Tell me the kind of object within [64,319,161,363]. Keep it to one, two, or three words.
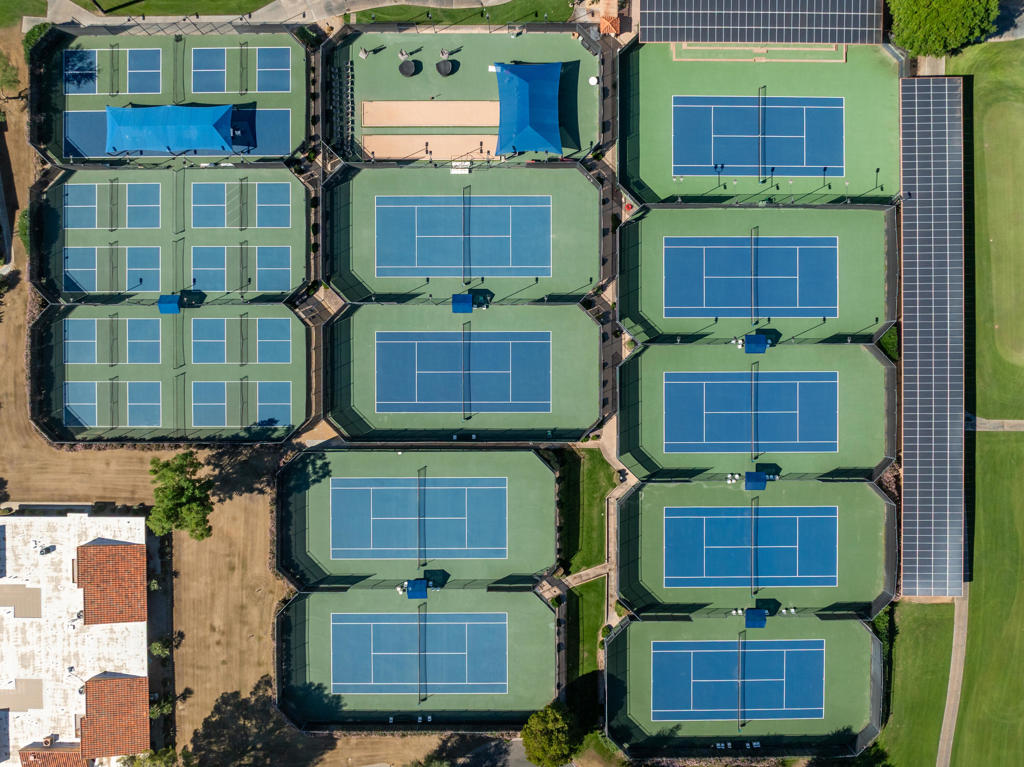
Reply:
sports court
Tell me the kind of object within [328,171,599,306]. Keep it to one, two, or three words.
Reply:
tennis court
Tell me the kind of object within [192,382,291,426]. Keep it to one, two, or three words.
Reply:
sports court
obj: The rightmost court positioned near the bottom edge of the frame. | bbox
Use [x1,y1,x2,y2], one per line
[605,612,870,747]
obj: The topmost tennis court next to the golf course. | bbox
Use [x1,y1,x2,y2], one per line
[618,40,899,206]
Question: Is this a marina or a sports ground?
sports ground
